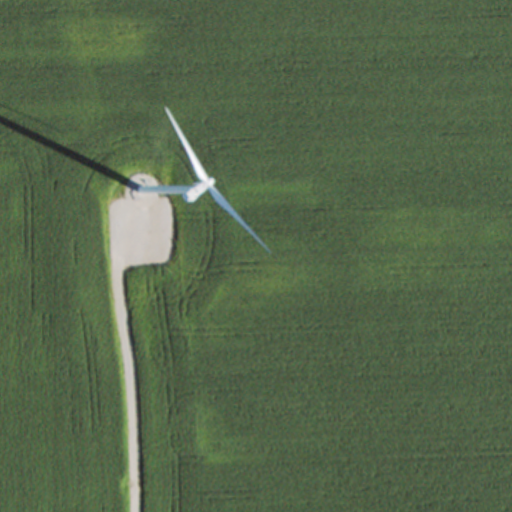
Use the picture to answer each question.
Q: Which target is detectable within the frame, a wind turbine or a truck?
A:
wind turbine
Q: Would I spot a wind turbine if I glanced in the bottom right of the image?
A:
No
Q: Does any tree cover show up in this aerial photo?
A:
No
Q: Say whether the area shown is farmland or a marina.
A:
farmland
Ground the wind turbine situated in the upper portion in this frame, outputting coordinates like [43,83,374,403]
[138,106,270,252]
